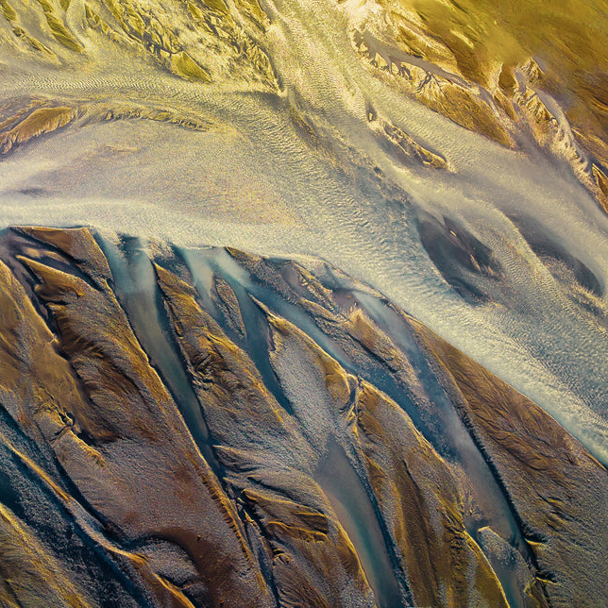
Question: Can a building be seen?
No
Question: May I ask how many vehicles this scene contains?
0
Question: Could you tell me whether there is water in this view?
Yes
